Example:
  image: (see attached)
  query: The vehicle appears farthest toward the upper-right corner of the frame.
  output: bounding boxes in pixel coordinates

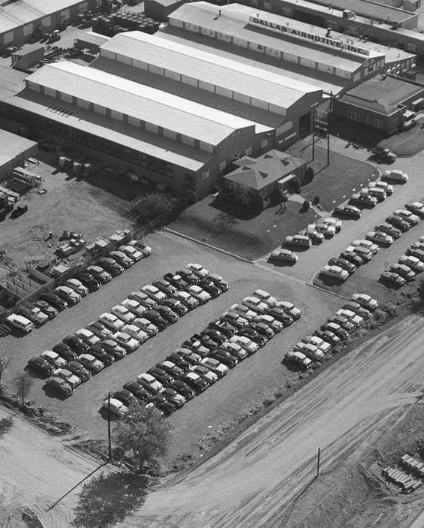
[367,149,400,163]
